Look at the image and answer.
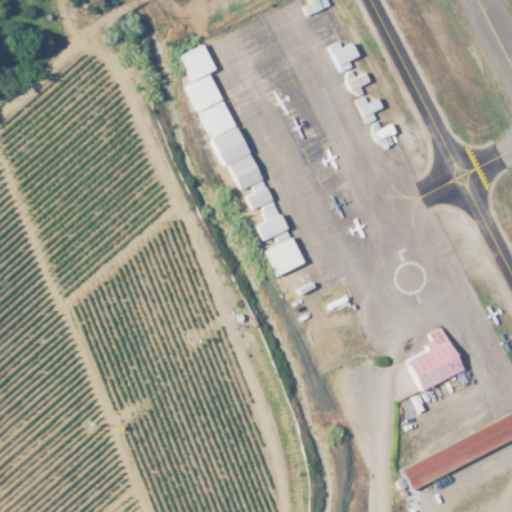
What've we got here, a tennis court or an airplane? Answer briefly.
airplane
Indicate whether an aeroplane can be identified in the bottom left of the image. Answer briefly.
No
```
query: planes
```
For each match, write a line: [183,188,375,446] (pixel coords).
[321,148,338,170]
[332,196,348,218]
[274,91,292,114]
[349,218,365,238]
[292,118,309,138]
[499,334,512,351]
[486,306,504,325]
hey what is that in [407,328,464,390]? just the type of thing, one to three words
hangar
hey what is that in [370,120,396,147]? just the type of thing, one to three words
hangar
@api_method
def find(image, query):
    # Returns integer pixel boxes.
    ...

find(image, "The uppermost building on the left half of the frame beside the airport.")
[179,44,216,82]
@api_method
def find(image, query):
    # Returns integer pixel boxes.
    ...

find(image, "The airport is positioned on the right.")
[204,0,512,408]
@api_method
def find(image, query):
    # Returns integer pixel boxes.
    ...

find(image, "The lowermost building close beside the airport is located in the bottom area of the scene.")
[404,412,512,490]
